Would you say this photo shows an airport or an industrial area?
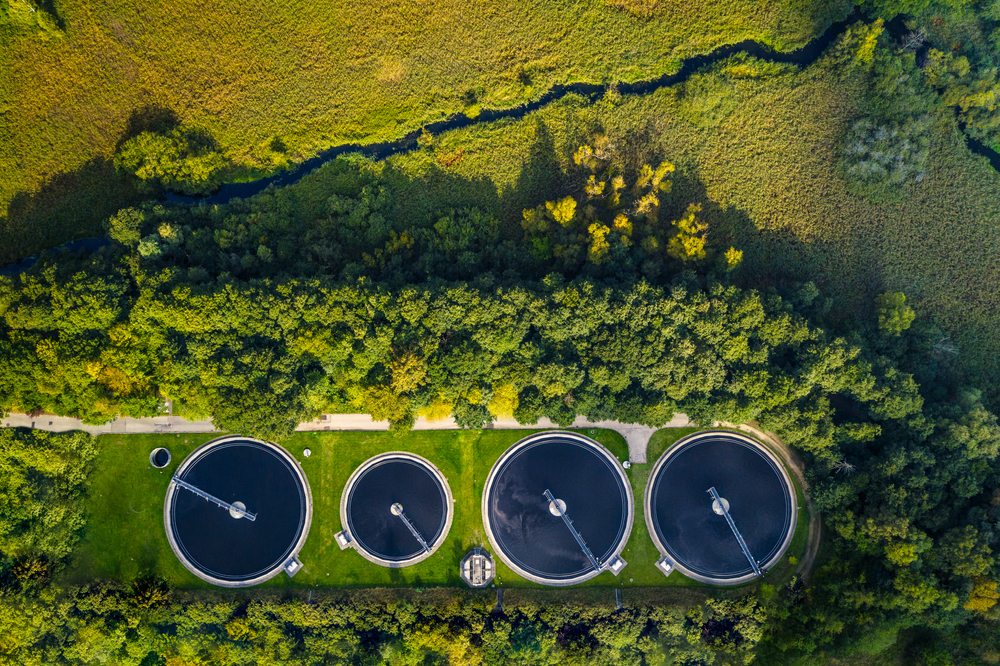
industrial area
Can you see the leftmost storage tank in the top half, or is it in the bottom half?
bottom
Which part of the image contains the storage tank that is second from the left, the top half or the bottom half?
bottom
